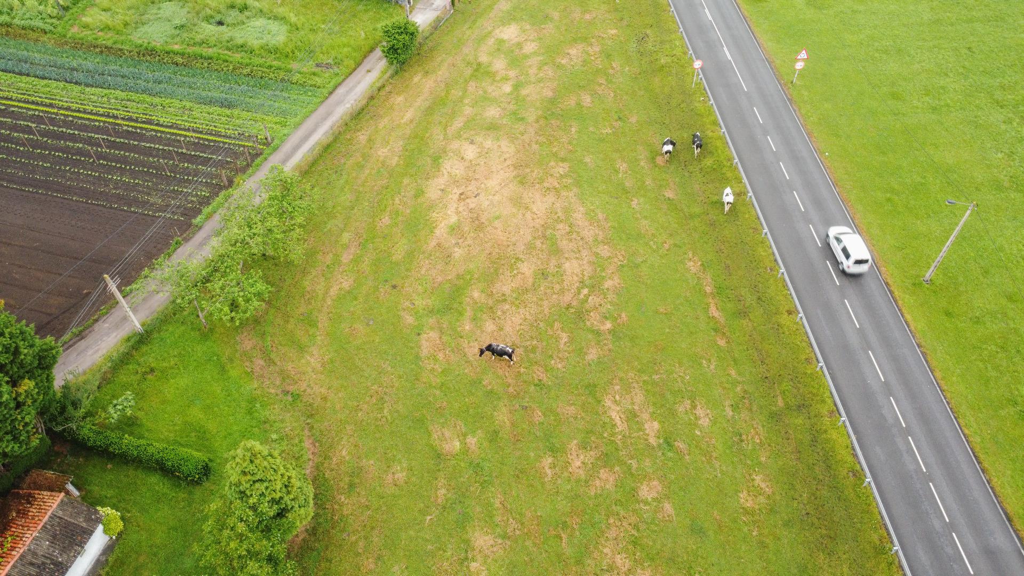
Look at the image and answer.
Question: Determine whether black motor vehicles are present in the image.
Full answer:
No, I can see no black motor vehicle in this picture.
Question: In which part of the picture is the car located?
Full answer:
The car sits in the right section of the image.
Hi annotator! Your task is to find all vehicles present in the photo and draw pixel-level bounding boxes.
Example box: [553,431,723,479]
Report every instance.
[830,227,877,274]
